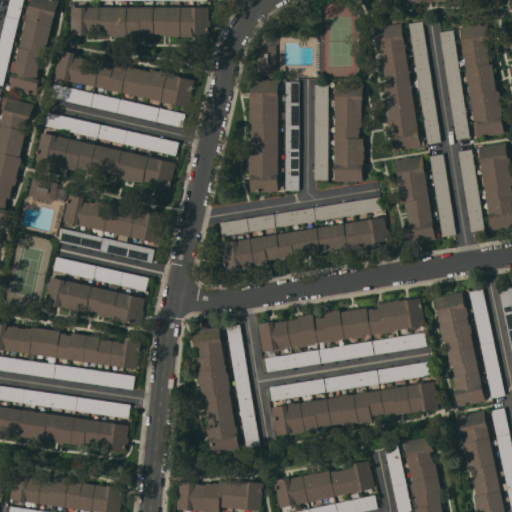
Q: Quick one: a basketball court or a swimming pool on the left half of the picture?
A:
swimming pool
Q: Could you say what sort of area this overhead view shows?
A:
residential area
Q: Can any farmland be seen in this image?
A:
No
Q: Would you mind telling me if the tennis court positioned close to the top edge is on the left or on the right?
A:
right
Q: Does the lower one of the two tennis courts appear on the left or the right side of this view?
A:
left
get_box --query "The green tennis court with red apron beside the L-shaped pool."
[323,5,358,76]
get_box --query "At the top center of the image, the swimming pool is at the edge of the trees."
[280,38,322,78]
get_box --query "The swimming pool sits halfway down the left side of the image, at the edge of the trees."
[22,198,67,235]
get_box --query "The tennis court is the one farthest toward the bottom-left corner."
[7,236,52,302]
